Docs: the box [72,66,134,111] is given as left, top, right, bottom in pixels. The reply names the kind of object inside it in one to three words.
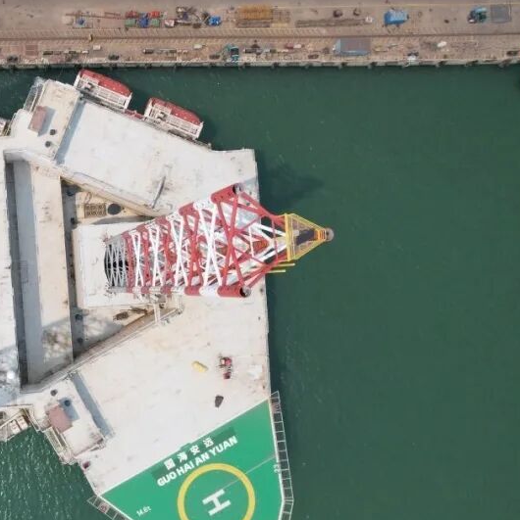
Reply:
boat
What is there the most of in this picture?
water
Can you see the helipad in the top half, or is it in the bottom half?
bottom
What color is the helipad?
green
